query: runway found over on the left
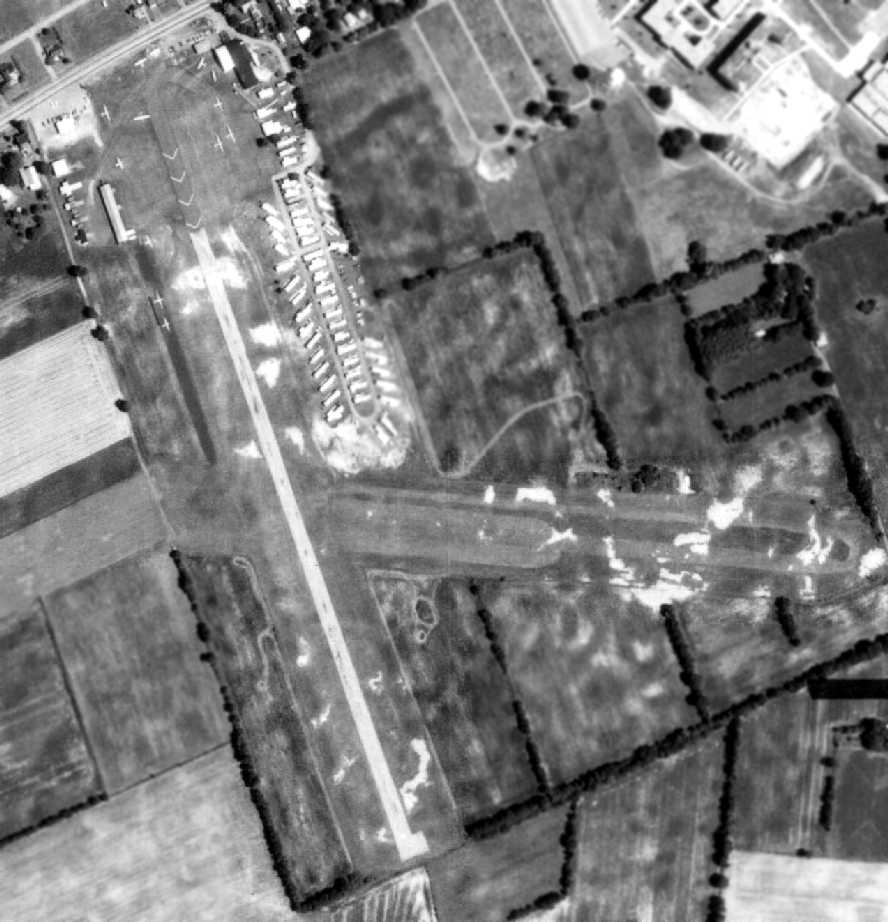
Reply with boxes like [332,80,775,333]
[191,229,429,861]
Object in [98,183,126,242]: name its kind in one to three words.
hangar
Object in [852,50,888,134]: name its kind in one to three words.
building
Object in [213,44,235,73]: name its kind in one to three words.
hangar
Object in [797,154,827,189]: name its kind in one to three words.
shed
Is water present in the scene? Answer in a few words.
No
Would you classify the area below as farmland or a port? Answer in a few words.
farmland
